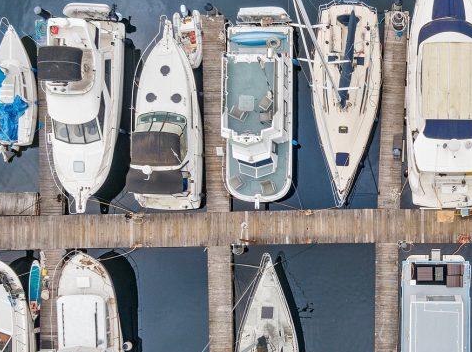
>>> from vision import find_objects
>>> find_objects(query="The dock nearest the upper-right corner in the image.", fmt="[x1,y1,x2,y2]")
[377,10,408,209]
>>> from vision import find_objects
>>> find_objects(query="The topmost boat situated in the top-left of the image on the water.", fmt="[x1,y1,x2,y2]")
[62,0,110,22]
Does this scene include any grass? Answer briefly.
No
